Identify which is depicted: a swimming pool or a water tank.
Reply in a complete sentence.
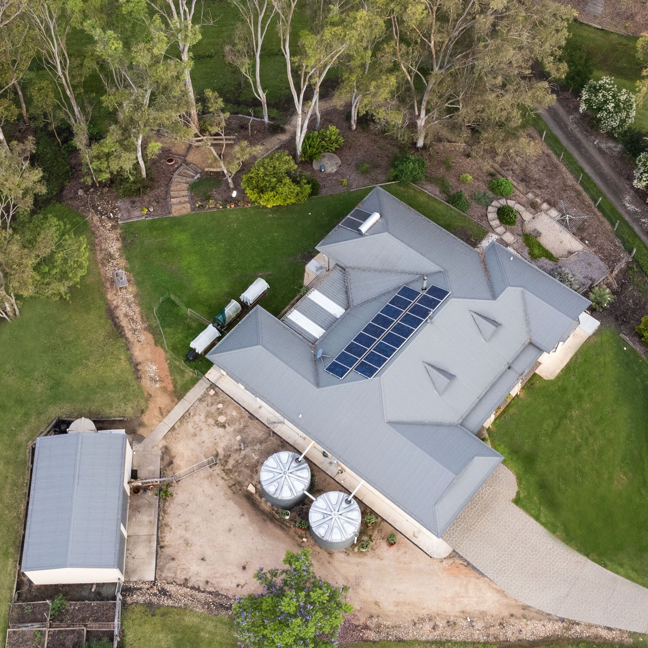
Visible in the photo is a water tank.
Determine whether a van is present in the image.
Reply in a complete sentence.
No, no van can be seen from above.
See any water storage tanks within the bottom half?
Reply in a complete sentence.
Yes, I can see a water storage tank within the bottom half.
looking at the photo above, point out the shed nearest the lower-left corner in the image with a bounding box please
[20,431,132,582]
